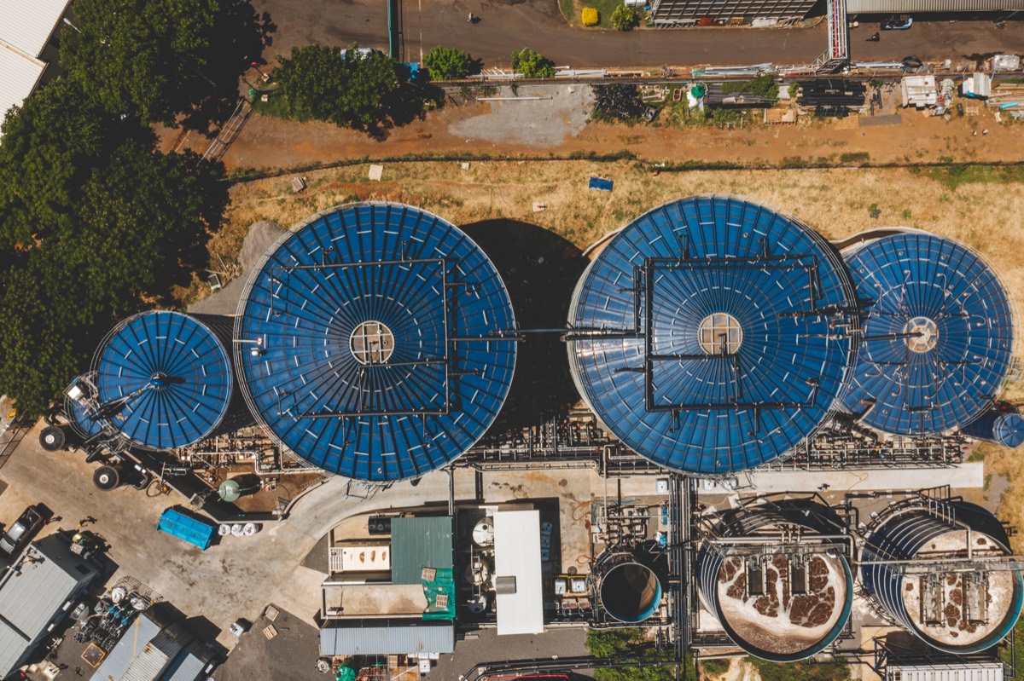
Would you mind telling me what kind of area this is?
industrial area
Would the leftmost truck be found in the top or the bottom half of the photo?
bottom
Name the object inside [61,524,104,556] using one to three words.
work vehicle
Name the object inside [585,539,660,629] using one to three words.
storage tank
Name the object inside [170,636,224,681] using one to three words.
shed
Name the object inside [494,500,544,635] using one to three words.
shed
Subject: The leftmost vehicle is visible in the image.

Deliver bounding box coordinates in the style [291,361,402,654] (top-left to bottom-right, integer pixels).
[0,504,52,558]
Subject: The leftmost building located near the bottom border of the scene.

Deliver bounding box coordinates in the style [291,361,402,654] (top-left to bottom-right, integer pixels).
[0,533,102,680]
